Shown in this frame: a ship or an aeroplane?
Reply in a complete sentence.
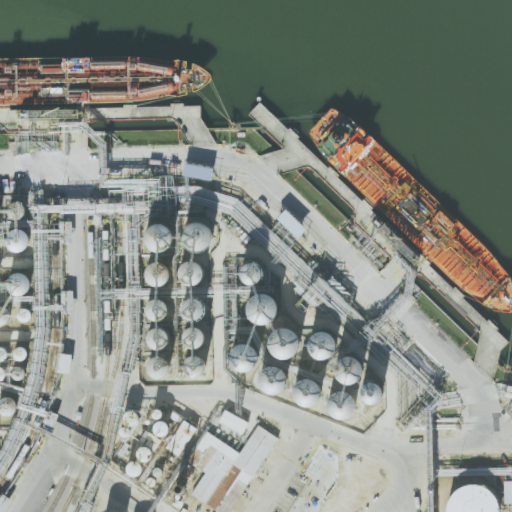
It is a ship that can be seen here.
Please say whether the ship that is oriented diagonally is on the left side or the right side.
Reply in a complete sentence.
The ship that is oriented diagonally sits on the right side.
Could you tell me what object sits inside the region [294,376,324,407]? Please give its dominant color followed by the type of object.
white storage tank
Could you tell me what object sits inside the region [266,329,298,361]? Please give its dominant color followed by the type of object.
white storage tank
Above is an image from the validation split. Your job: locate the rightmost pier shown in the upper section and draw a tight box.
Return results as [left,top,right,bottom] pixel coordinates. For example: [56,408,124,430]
[250,103,383,223]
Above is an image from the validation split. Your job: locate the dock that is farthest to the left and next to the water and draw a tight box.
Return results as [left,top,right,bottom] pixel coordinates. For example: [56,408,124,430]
[0,103,215,145]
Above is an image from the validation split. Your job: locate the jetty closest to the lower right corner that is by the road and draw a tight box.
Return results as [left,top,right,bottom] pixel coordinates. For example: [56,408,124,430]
[413,254,508,378]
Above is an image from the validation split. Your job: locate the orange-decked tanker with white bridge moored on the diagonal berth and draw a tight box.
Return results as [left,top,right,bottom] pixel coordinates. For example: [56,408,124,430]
[310,108,512,312]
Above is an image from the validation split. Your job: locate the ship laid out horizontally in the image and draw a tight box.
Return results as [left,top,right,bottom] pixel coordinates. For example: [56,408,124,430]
[0,58,212,104]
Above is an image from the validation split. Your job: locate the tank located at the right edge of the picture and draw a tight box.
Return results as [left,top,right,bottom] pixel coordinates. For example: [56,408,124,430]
[443,484,499,512]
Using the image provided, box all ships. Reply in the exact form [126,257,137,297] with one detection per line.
[310,108,512,312]
[0,58,212,104]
